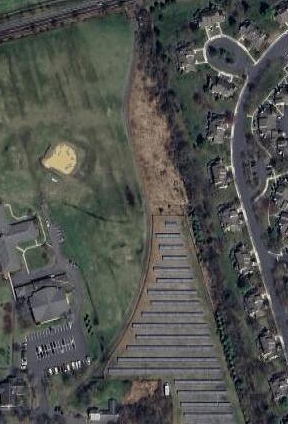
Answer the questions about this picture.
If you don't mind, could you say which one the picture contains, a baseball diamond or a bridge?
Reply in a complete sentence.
The one in the frame is a baseball diamond.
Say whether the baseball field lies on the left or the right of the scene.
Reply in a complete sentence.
The baseball field is on the left side of the image.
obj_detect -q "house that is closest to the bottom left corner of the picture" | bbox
[0,381,24,408]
